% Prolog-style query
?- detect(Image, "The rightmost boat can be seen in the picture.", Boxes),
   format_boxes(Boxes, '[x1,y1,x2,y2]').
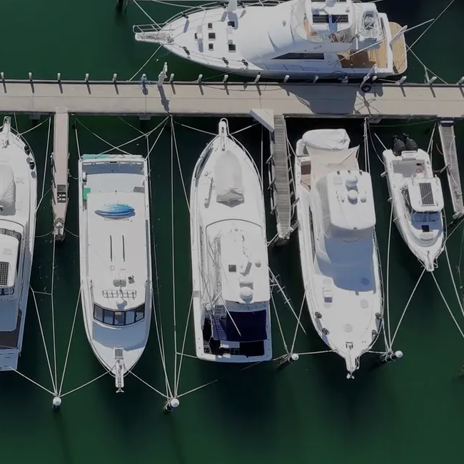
[383,130,450,276]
